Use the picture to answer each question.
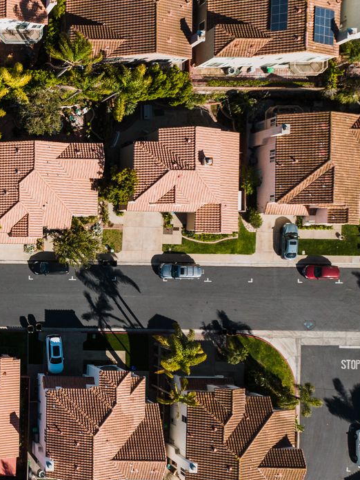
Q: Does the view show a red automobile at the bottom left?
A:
No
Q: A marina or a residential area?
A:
residential area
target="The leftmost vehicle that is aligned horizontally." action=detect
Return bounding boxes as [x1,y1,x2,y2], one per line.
[29,259,69,276]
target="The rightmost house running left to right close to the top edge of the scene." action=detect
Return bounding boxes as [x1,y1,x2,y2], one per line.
[193,0,358,80]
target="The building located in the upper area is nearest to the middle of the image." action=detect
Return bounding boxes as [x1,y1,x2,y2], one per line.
[117,125,240,234]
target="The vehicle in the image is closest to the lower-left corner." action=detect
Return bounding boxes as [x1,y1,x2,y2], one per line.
[46,334,66,374]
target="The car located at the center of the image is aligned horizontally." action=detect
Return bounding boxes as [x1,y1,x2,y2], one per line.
[160,262,202,280]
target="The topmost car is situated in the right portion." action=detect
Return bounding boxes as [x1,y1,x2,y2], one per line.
[279,222,301,261]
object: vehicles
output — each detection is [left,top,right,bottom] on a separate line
[29,259,69,276]
[279,222,301,261]
[160,262,202,280]
[46,334,66,374]
[303,264,343,282]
